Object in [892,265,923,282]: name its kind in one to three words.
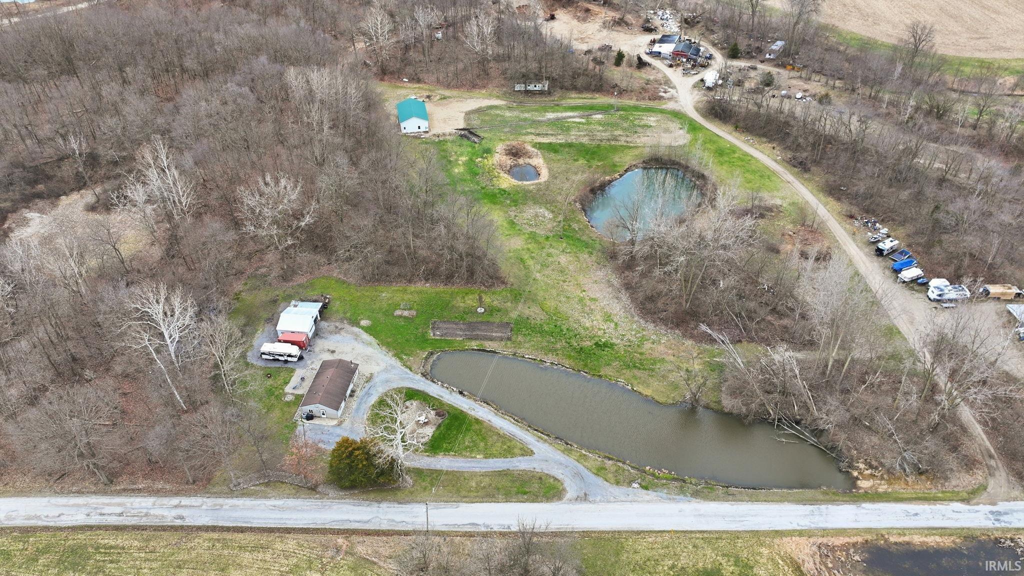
boat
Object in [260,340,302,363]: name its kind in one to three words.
vehicle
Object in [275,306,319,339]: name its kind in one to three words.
building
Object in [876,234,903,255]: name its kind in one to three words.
vehicle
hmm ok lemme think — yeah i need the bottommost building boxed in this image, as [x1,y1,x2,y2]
[298,358,354,418]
